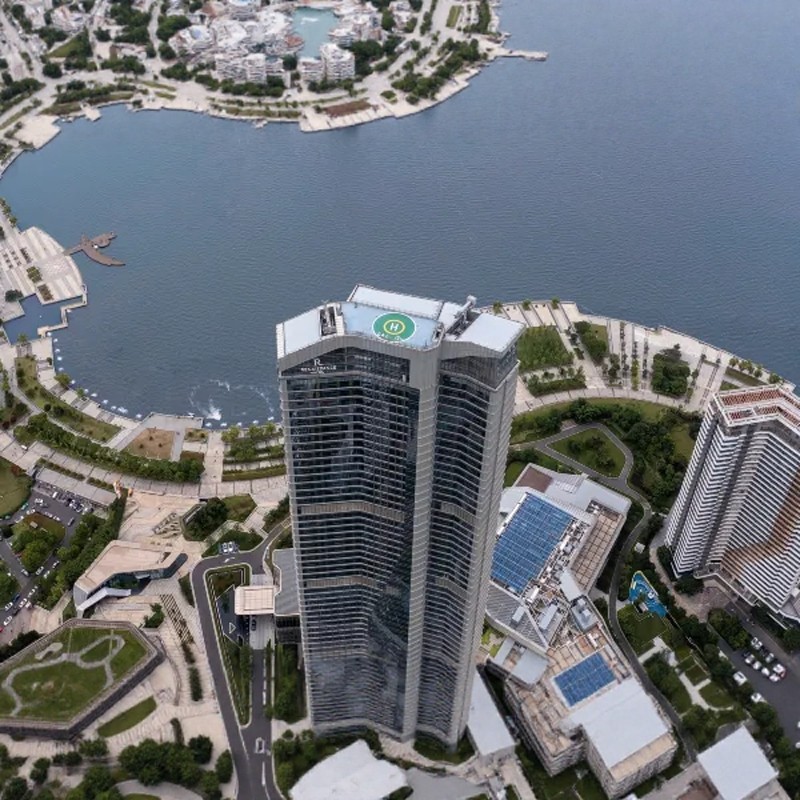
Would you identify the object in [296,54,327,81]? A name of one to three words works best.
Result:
house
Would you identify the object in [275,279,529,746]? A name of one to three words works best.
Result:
building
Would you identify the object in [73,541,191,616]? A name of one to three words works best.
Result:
building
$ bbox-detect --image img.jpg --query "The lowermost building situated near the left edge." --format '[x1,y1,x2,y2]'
[0,619,165,736]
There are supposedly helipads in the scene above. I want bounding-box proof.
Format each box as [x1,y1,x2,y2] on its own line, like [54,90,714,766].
[373,312,417,340]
